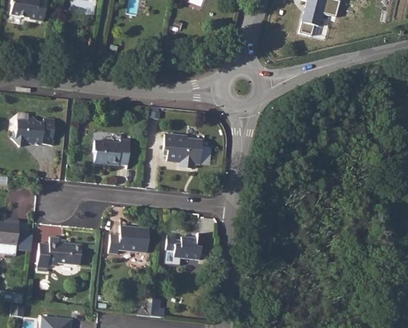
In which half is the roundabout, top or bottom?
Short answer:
top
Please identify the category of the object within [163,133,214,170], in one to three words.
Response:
house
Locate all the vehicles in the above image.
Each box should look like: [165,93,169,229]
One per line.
[261,72,272,77]
[106,220,112,232]
[16,86,31,93]
[304,64,316,70]
[187,198,198,202]
[248,44,253,55]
